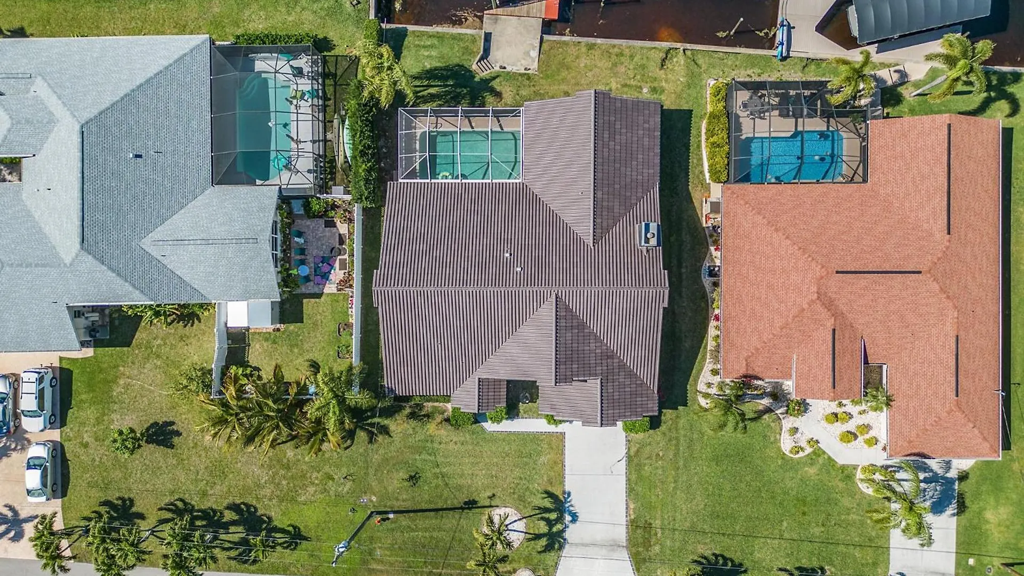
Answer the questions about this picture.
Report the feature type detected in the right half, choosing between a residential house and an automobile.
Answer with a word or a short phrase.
residential house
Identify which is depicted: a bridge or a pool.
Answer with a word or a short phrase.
pool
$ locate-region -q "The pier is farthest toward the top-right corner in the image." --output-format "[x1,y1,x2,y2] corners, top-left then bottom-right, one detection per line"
[777,0,967,65]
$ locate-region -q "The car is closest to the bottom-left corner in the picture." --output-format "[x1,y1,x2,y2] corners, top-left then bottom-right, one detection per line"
[22,439,59,505]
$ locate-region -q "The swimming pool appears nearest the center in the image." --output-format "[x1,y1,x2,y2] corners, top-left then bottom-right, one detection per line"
[414,125,521,180]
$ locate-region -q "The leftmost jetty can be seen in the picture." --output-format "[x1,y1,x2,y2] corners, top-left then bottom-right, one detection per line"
[484,0,558,21]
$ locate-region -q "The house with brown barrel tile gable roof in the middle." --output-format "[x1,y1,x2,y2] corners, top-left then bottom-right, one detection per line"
[370,89,670,427]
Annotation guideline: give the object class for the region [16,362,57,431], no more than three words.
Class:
car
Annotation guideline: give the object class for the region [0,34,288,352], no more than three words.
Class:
house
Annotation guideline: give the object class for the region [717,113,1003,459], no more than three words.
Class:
house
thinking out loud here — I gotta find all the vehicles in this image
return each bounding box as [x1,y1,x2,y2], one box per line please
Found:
[16,362,57,431]
[0,373,14,438]
[22,439,59,505]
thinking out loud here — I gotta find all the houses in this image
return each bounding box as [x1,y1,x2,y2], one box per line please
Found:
[717,113,1003,459]
[370,89,670,427]
[0,34,288,352]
